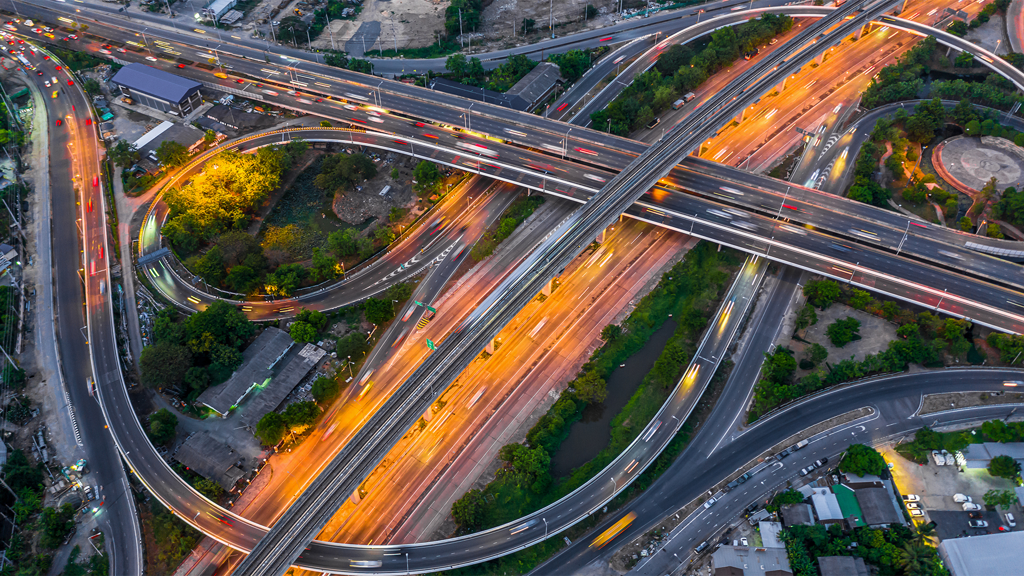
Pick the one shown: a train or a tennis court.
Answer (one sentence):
It is a train that can be seen here.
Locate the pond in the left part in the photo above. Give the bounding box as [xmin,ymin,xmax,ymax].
[260,154,379,258]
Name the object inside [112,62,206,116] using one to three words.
building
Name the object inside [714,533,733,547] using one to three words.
vehicle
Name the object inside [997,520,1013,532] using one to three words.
vehicle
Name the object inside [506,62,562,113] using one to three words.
house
